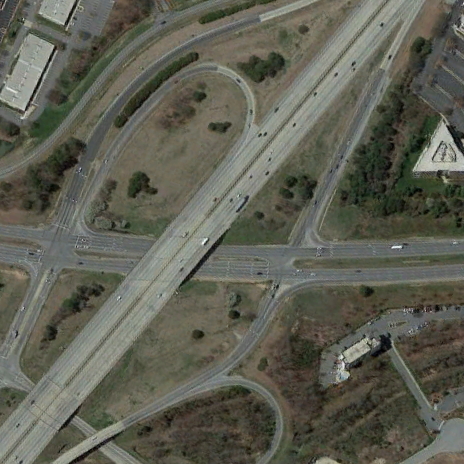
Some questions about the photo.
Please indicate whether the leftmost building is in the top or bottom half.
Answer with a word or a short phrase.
top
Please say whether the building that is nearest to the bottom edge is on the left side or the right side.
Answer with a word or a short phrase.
right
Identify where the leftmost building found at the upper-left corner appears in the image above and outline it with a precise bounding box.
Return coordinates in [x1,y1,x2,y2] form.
[0,33,55,117]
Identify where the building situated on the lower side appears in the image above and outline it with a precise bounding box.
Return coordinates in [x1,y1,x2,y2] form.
[339,338,380,373]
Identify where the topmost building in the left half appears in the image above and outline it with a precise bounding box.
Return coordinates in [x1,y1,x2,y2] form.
[39,0,80,31]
